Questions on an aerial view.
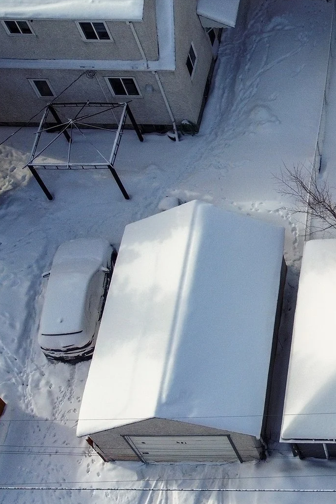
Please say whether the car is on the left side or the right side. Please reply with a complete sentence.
The car is on the left side of the image.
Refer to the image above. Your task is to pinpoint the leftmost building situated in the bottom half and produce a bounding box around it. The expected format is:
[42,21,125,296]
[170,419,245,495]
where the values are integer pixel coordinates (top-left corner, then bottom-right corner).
[79,209,292,467]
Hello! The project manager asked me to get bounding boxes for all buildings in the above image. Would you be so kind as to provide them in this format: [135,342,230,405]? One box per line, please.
[281,242,336,463]
[0,0,246,141]
[79,209,292,467]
